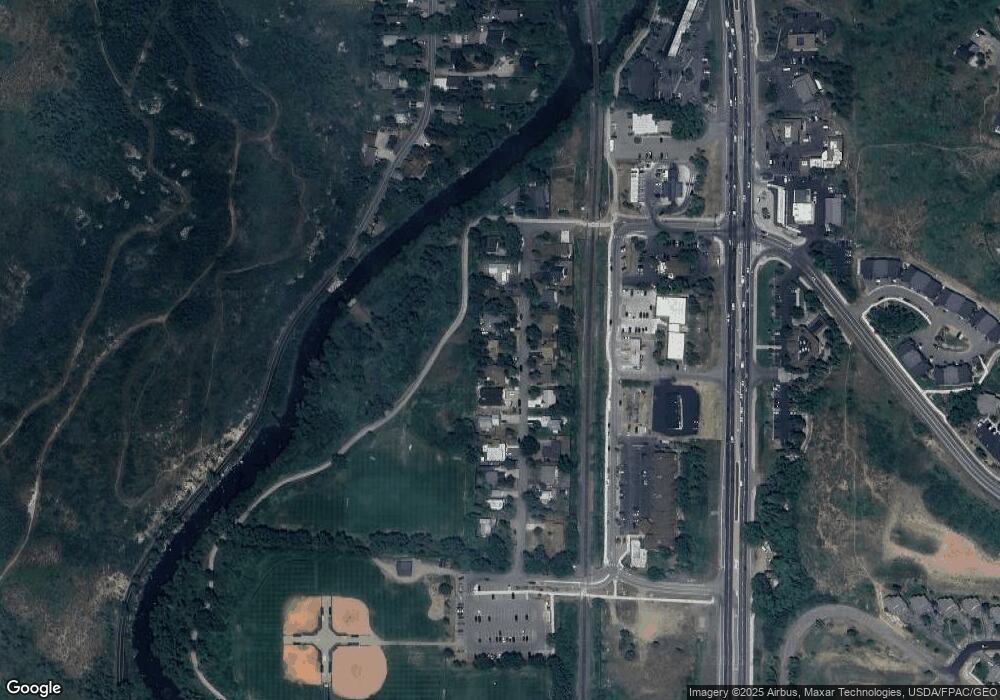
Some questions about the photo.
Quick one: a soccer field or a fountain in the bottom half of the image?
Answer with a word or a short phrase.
soccer field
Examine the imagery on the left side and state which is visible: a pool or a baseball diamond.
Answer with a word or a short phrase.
baseball diamond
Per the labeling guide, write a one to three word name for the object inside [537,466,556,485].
house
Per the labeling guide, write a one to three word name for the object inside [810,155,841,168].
building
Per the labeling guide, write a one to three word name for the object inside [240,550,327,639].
baseball field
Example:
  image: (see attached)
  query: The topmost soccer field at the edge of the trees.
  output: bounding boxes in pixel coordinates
[254,447,475,536]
